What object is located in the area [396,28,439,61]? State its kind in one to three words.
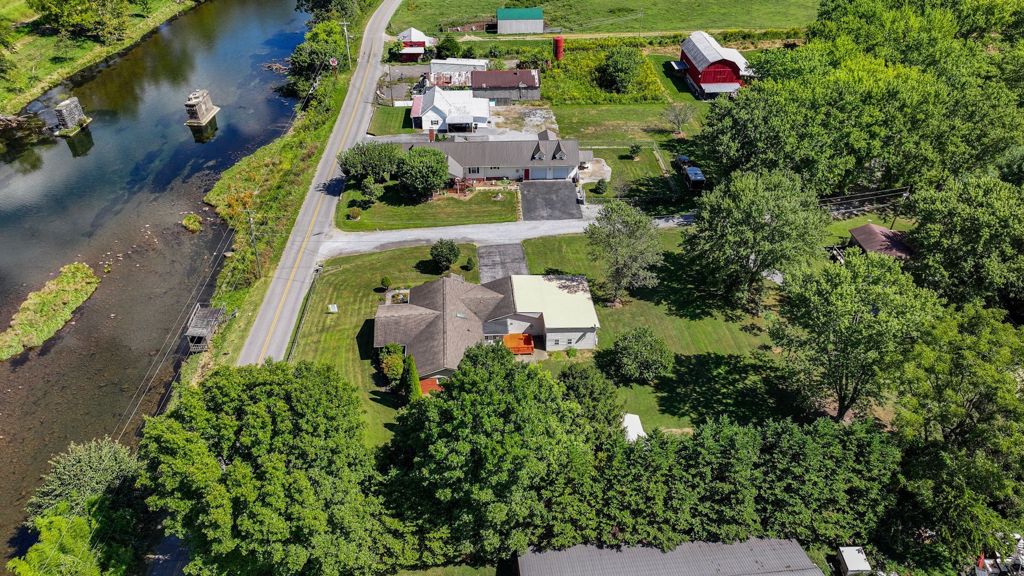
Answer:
barn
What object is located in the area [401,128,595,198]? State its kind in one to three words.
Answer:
house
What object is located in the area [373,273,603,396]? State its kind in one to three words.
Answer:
house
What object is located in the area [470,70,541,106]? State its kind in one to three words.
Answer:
shed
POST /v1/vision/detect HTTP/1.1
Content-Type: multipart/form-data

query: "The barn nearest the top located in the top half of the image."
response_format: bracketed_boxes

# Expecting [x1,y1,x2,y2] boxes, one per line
[496,7,545,34]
